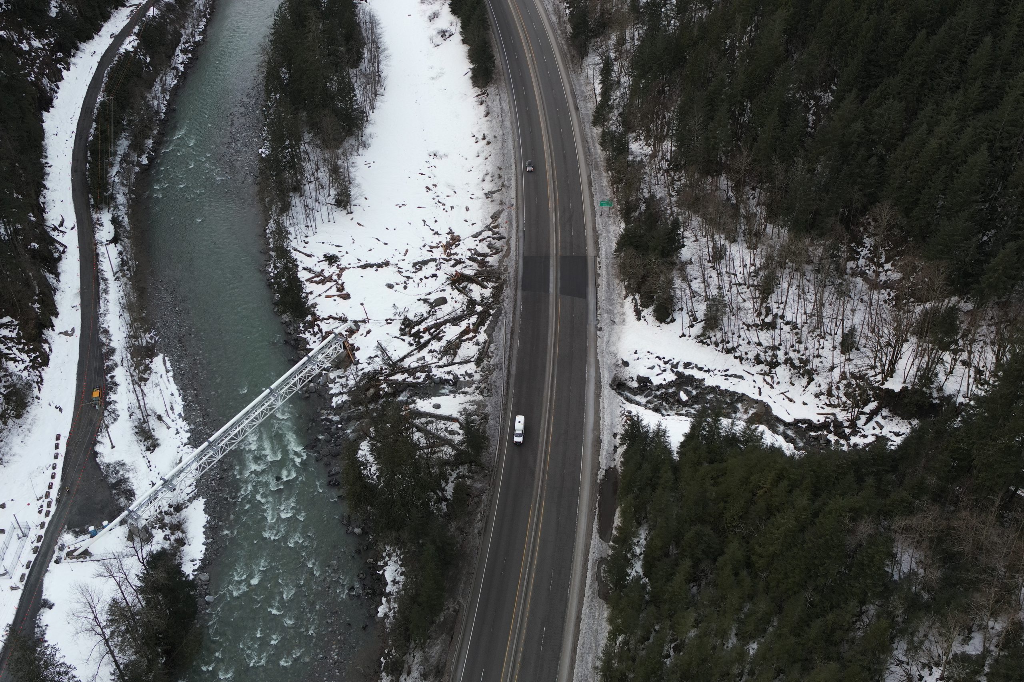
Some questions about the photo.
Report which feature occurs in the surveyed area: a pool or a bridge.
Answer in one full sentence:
I can see a bridge in this picture.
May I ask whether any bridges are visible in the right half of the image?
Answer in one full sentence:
No, I see no bridge in the right half of the image.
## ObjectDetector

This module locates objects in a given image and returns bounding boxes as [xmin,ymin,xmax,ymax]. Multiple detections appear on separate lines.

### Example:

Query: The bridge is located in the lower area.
[126,332,349,526]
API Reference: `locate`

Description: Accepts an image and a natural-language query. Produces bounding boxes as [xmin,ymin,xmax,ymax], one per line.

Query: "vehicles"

[526,160,534,172]
[87,389,103,410]
[513,417,524,444]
